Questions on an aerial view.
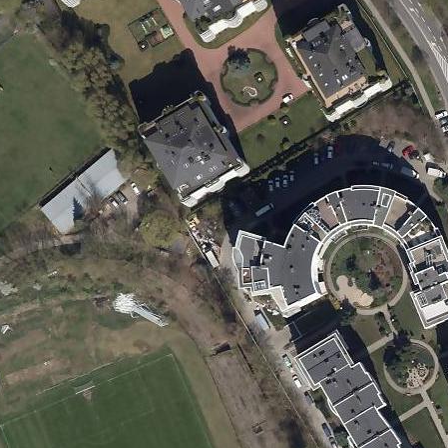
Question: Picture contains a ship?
No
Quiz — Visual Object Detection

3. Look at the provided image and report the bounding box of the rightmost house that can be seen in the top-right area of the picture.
[287,4,378,119]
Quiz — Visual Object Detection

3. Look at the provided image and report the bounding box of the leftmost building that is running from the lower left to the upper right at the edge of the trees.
[36,145,127,235]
